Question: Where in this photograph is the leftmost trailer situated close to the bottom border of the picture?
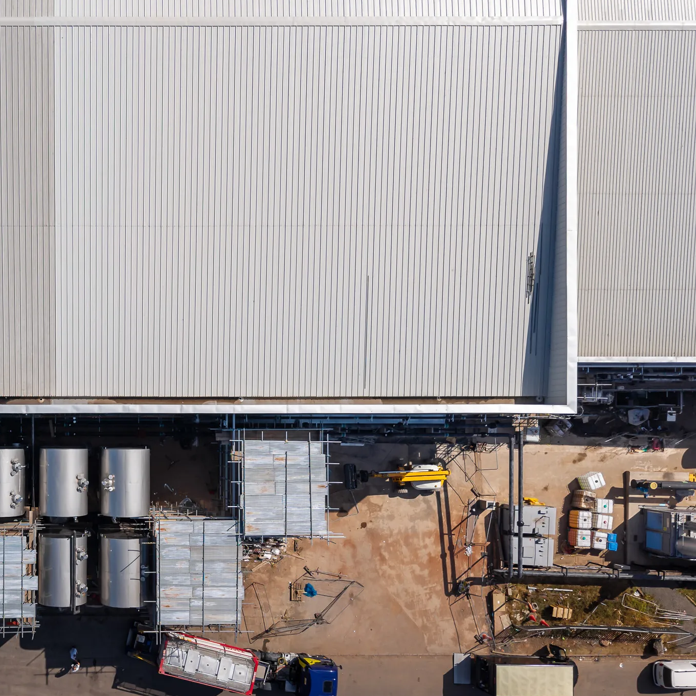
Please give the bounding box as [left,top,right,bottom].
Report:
[129,614,267,695]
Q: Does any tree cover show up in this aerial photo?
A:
No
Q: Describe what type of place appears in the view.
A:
industrial area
